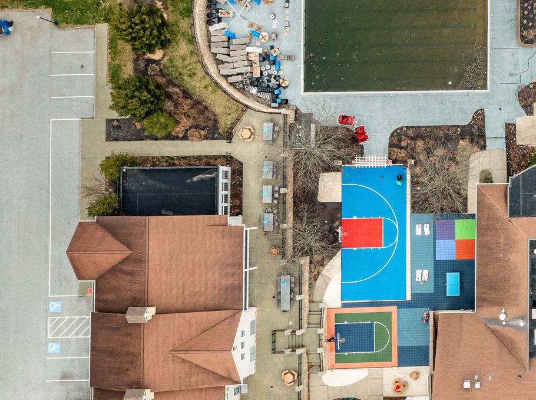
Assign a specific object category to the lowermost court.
basketball court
